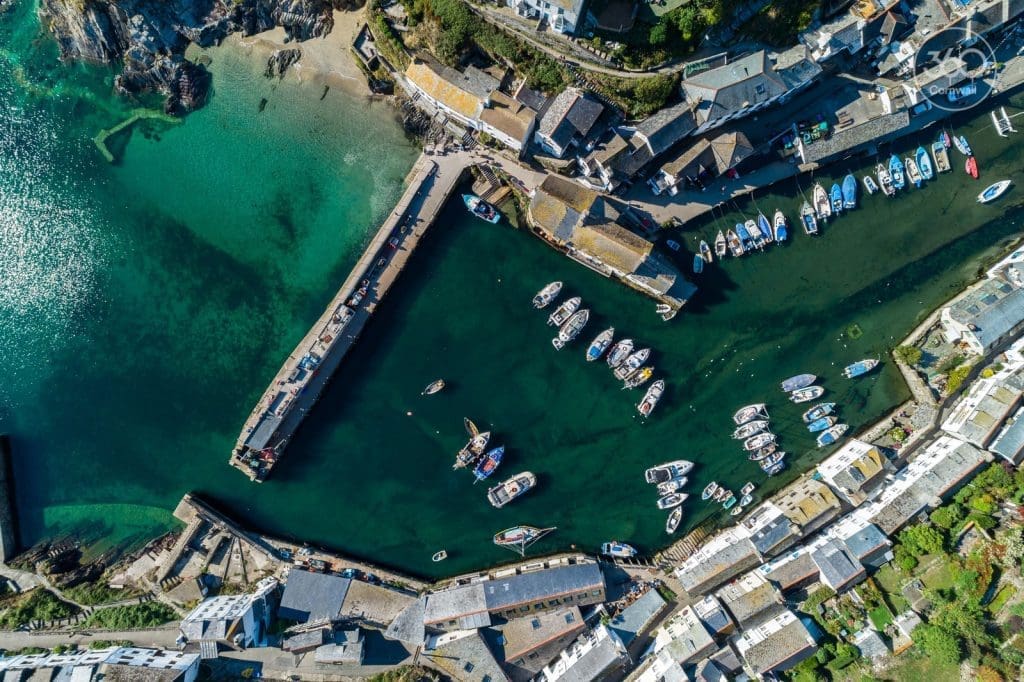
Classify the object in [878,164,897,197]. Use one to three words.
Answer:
boat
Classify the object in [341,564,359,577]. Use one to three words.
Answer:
vehicle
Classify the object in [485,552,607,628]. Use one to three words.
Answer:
building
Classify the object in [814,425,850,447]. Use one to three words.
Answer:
boat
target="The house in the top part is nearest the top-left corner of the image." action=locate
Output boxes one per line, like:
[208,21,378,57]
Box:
[408,53,456,106]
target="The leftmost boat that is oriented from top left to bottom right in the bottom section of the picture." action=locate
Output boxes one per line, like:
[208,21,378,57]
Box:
[464,418,480,437]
